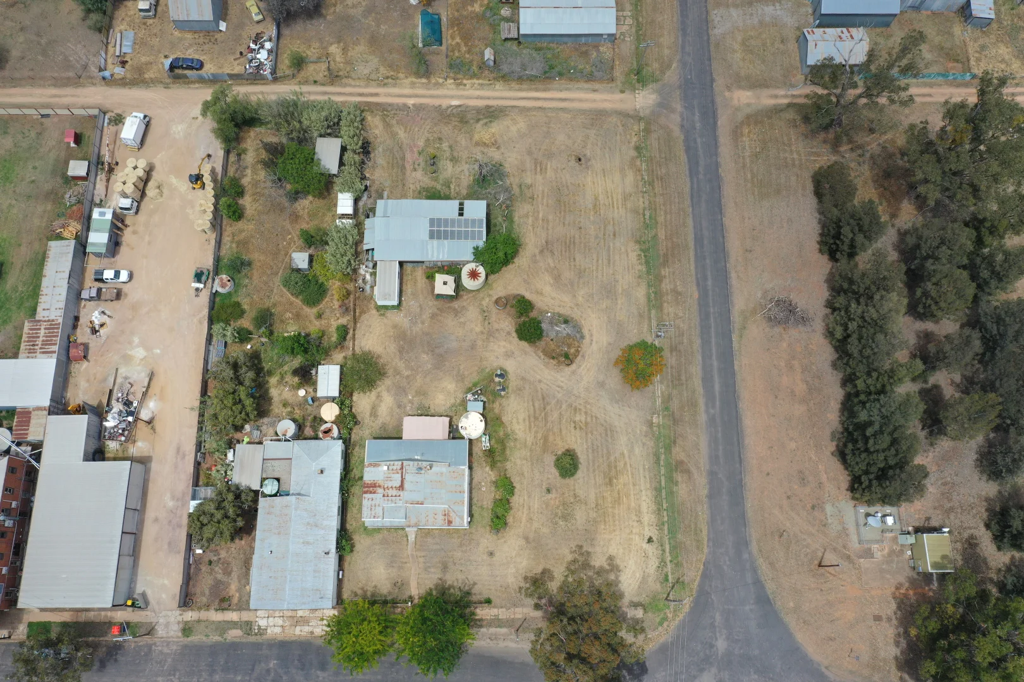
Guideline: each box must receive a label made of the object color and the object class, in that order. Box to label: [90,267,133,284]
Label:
white vehicle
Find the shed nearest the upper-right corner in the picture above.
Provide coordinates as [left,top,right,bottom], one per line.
[958,0,995,31]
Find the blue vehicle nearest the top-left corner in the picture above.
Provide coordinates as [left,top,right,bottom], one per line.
[171,55,205,72]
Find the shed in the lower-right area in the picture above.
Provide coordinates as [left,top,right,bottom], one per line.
[913,534,955,573]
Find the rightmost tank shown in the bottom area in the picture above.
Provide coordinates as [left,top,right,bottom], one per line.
[459,412,485,441]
